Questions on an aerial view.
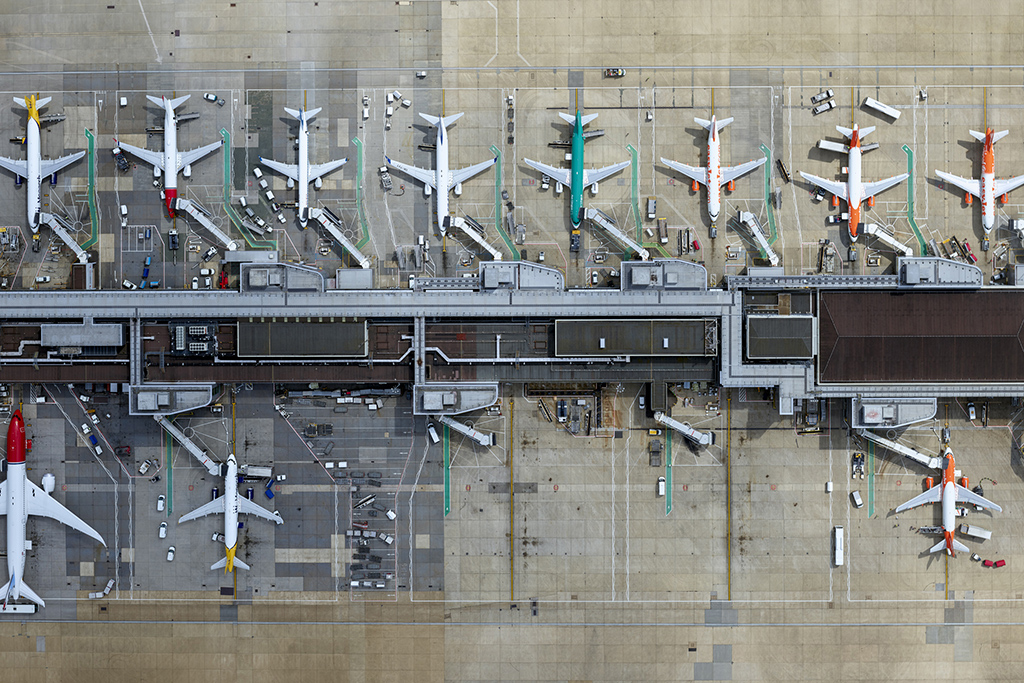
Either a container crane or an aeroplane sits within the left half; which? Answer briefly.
aeroplane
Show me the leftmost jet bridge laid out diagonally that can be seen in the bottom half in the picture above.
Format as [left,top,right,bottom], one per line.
[154,414,227,476]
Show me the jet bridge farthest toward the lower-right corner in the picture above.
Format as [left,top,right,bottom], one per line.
[854,428,947,471]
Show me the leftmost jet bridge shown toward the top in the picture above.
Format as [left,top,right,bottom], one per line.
[35,211,90,262]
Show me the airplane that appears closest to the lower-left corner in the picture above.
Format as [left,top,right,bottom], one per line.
[0,409,107,609]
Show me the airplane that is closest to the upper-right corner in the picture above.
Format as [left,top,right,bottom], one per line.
[934,126,1024,235]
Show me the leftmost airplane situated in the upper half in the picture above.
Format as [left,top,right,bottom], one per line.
[0,93,87,233]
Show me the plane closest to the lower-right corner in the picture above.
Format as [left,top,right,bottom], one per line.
[895,447,1005,555]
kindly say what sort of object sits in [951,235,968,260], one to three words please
work vehicle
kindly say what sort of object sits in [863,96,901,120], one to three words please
bus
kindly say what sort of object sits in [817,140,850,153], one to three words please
vehicle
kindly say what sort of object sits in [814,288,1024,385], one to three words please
building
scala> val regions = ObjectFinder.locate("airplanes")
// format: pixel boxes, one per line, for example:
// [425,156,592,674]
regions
[386,111,496,236]
[177,453,284,571]
[801,123,909,242]
[258,106,347,228]
[895,447,1005,555]
[934,126,1024,235]
[0,409,107,609]
[524,110,631,228]
[660,115,768,222]
[0,93,87,233]
[113,93,223,218]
